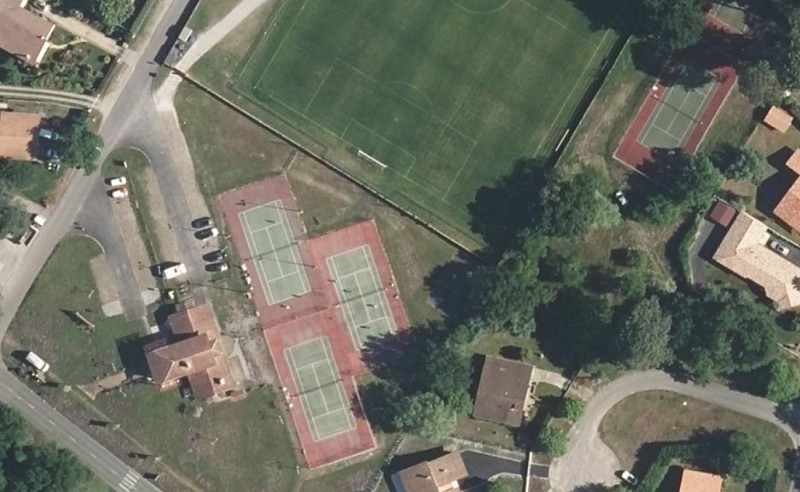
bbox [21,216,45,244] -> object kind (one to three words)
truck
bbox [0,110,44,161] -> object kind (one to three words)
house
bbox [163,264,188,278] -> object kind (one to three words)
vehicle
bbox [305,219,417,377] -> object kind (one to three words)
tennis court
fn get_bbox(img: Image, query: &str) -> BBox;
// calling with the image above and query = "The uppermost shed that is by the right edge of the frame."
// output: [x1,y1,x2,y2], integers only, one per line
[764,106,793,134]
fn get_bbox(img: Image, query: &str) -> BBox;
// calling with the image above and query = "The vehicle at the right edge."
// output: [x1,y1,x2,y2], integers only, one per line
[772,243,790,257]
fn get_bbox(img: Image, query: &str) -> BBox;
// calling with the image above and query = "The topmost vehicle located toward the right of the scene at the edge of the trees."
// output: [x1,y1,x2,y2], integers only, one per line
[613,189,630,205]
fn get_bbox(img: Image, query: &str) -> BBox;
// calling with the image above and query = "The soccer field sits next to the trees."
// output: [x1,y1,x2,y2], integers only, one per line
[236,0,628,237]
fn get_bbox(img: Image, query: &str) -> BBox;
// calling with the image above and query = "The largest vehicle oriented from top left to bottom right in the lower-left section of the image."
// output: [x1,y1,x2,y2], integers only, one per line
[26,351,48,371]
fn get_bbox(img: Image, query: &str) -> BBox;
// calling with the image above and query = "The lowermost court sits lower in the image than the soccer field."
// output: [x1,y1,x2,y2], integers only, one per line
[263,312,377,469]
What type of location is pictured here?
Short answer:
sports ground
